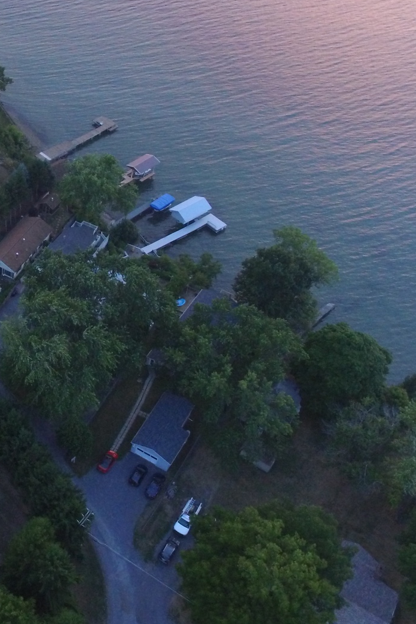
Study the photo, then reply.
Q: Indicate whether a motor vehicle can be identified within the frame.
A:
Yes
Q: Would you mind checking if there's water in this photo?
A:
Yes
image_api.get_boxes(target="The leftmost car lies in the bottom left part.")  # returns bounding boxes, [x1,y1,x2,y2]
[99,450,119,474]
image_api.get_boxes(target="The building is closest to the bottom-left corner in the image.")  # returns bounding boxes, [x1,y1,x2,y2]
[131,394,191,474]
